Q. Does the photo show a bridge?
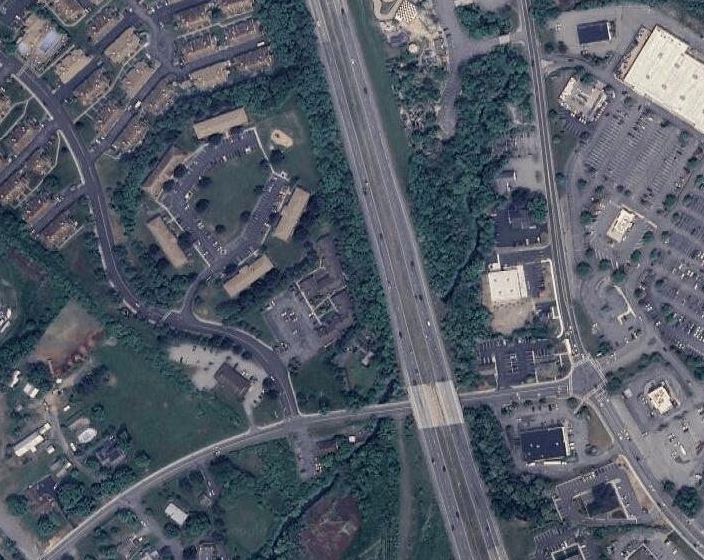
Yes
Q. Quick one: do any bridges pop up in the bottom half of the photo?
Yes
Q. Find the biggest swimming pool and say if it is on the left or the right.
left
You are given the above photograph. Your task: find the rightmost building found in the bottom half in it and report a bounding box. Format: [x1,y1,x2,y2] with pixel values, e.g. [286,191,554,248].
[647,383,677,413]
